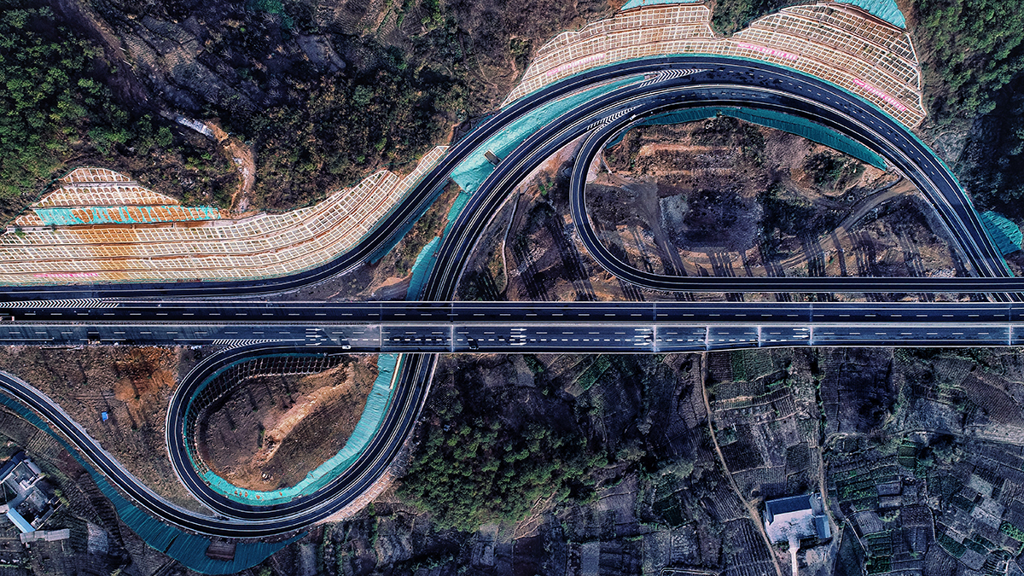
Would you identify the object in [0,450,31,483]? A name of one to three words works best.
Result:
house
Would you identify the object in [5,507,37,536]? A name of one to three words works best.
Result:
shed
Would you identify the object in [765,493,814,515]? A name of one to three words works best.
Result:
house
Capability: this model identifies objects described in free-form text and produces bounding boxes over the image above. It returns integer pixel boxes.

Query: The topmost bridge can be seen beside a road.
[571,150,1024,292]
